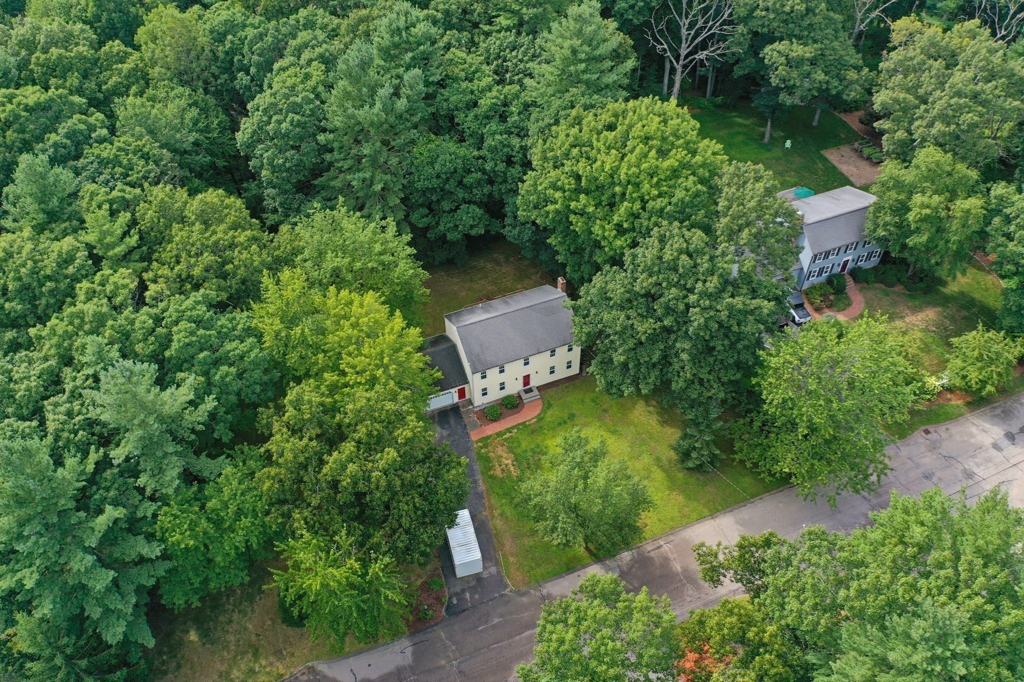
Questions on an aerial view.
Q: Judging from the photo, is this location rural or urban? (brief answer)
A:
rural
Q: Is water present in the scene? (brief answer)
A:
No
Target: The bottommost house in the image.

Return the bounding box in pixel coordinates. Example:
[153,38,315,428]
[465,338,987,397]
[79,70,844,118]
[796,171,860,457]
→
[420,276,581,412]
